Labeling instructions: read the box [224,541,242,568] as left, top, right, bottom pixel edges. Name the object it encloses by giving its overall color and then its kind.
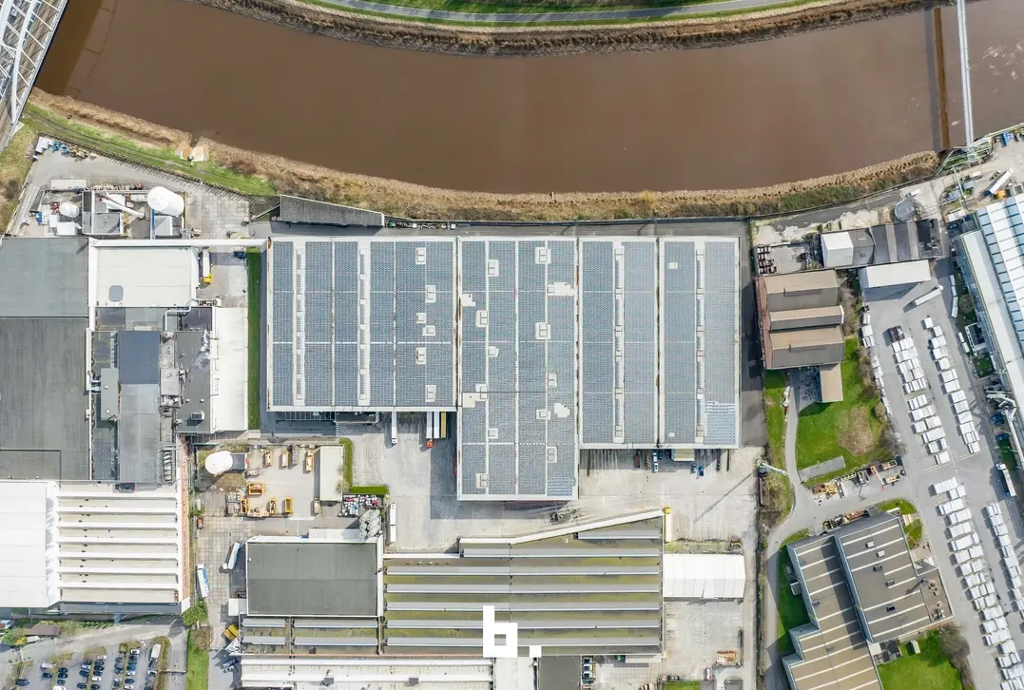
white vehicle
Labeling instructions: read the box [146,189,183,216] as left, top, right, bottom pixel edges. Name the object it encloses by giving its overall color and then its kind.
white silo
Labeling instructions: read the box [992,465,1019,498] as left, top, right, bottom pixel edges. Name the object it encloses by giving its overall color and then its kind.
white truck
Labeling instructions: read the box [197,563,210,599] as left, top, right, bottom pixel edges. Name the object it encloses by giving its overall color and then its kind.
white vehicle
